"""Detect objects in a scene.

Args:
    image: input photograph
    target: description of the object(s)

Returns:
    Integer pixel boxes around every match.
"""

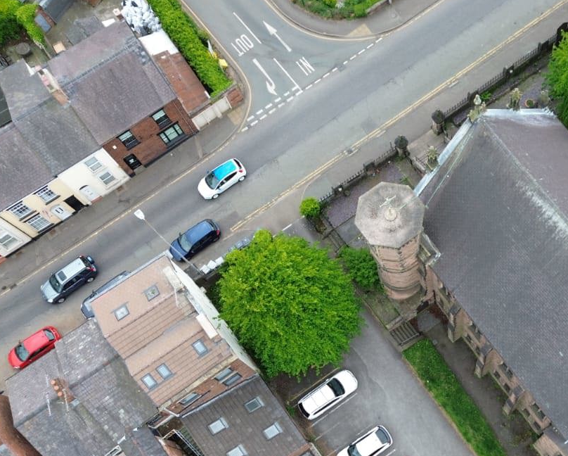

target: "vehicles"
[167,215,224,262]
[196,157,249,200]
[334,423,398,456]
[37,252,101,303]
[80,271,133,320]
[292,368,361,419]
[5,322,65,370]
